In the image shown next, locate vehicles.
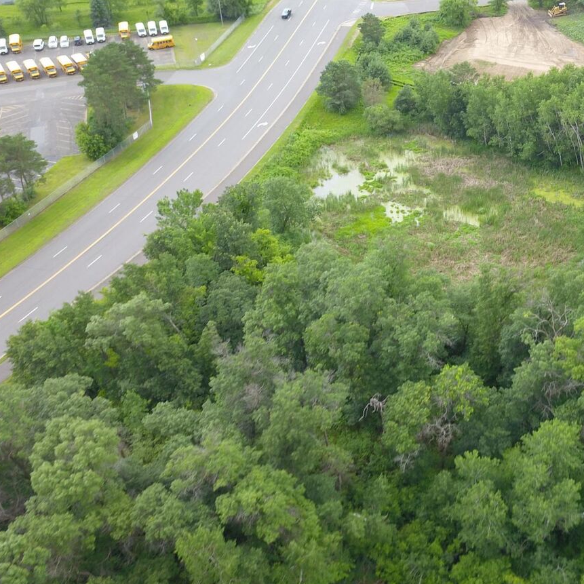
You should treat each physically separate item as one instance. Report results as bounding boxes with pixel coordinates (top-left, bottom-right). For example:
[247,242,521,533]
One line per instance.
[0,63,8,82]
[70,50,88,70]
[134,21,147,36]
[5,58,23,79]
[75,36,83,45]
[94,26,105,40]
[279,6,294,17]
[119,21,129,37]
[22,57,40,77]
[48,36,58,47]
[0,38,8,53]
[147,36,175,51]
[55,53,75,74]
[157,19,169,33]
[83,29,94,43]
[38,55,57,76]
[60,36,70,47]
[10,34,22,52]
[144,20,157,35]
[547,3,568,17]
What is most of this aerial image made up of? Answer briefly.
trees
